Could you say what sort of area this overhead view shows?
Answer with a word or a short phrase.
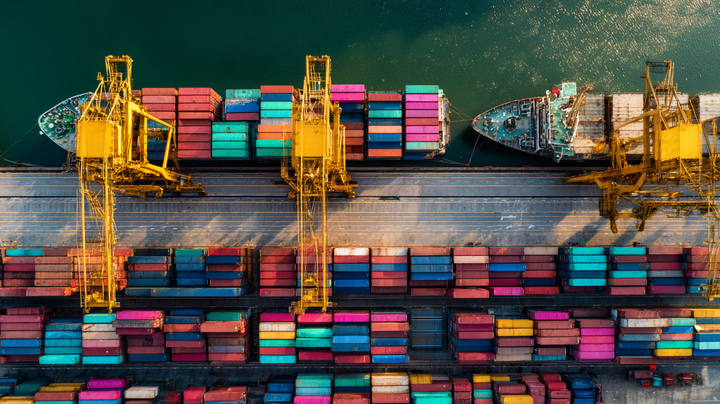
port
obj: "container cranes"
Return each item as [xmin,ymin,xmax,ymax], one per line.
[73,60,212,311]
[284,60,364,311]
[562,60,720,311]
